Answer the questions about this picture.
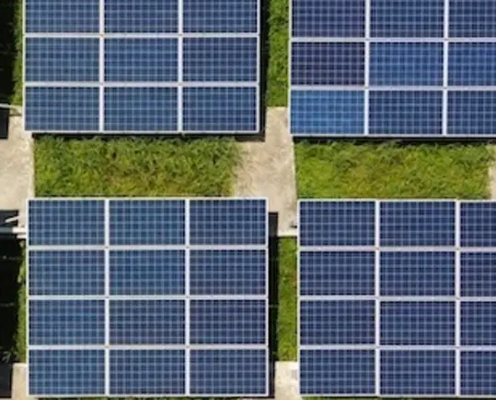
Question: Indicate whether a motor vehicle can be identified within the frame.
No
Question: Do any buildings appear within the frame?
No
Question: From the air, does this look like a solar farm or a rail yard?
solar farm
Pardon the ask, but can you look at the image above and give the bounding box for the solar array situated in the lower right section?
[290,199,496,397]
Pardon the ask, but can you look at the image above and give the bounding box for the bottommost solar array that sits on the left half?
[26,198,268,397]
